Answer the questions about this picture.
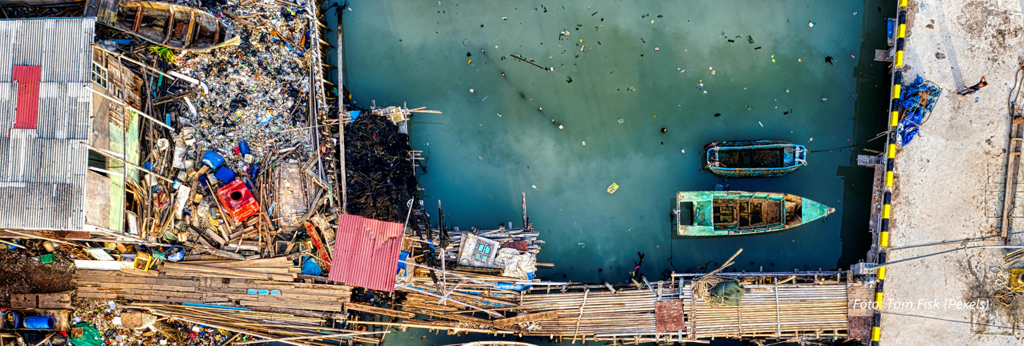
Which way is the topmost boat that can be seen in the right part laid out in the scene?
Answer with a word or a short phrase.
horizontally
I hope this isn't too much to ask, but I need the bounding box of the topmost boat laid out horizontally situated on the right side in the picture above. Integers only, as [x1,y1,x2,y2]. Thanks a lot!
[704,138,807,179]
